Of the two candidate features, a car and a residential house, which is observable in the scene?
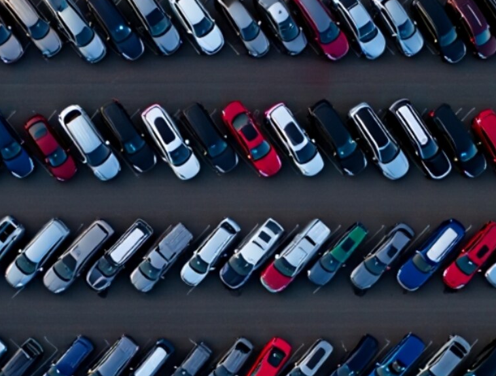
car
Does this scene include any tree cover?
No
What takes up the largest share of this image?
paved ground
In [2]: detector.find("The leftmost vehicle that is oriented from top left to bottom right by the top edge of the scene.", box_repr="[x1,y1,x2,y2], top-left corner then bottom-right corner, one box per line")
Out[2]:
[3,0,59,58]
